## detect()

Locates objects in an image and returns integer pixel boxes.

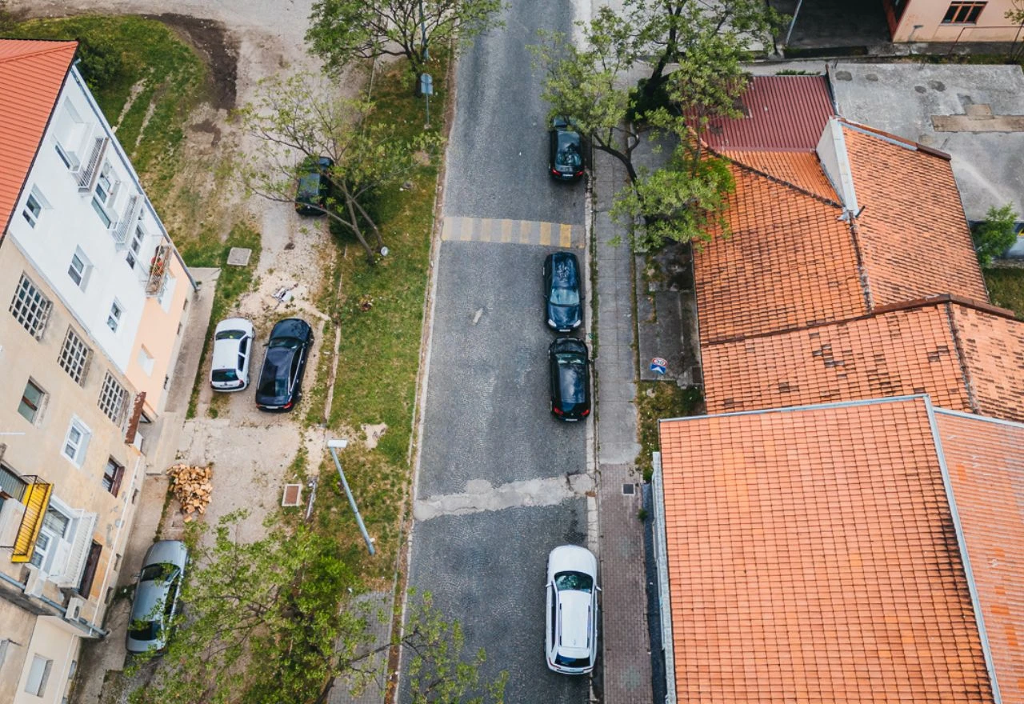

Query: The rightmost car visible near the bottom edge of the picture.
[543,544,602,676]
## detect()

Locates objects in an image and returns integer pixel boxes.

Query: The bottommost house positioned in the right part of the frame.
[647,392,1024,704]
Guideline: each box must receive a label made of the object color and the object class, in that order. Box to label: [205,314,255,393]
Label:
white car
